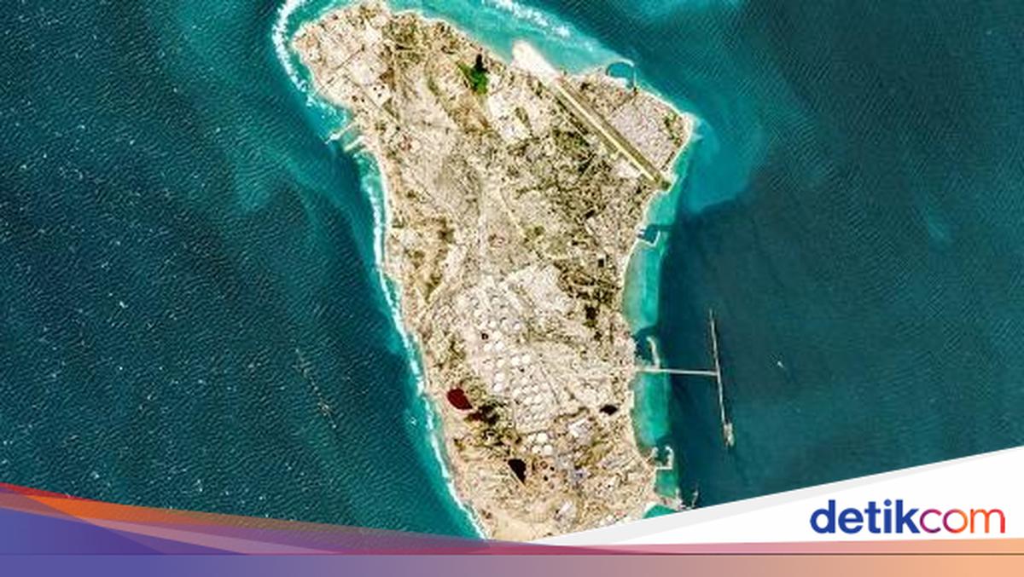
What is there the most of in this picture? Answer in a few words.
water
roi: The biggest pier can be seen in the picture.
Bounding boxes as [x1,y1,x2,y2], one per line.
[635,309,727,440]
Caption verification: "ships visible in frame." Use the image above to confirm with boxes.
[725,425,731,446]
[728,423,735,446]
